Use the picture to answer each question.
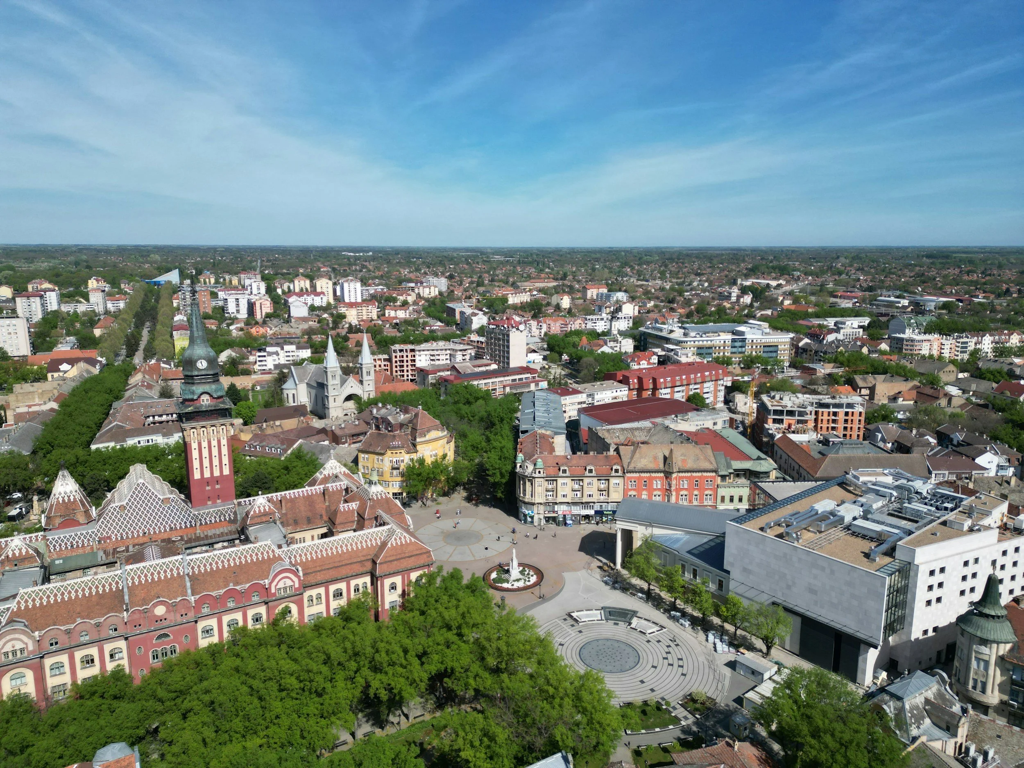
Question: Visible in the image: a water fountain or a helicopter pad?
water fountain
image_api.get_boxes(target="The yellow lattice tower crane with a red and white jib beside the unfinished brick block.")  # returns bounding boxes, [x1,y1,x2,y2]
[721,366,867,439]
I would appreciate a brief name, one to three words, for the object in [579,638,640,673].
fountain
